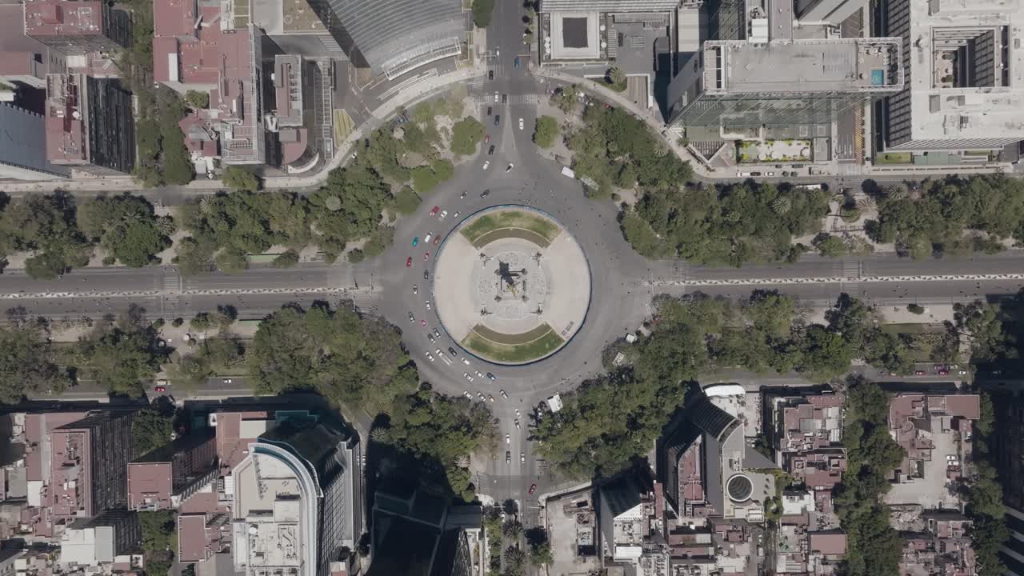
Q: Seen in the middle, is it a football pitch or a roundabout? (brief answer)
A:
roundabout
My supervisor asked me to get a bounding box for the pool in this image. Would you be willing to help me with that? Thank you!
[870,68,884,85]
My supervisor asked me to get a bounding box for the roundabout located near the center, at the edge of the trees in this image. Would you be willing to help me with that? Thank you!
[391,164,633,405]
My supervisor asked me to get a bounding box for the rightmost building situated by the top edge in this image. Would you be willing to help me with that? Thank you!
[885,0,1024,152]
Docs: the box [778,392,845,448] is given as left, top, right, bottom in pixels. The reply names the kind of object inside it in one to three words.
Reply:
building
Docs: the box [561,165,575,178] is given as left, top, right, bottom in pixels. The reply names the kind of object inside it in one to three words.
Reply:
vehicle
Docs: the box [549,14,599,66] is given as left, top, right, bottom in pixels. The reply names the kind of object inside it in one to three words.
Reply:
building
